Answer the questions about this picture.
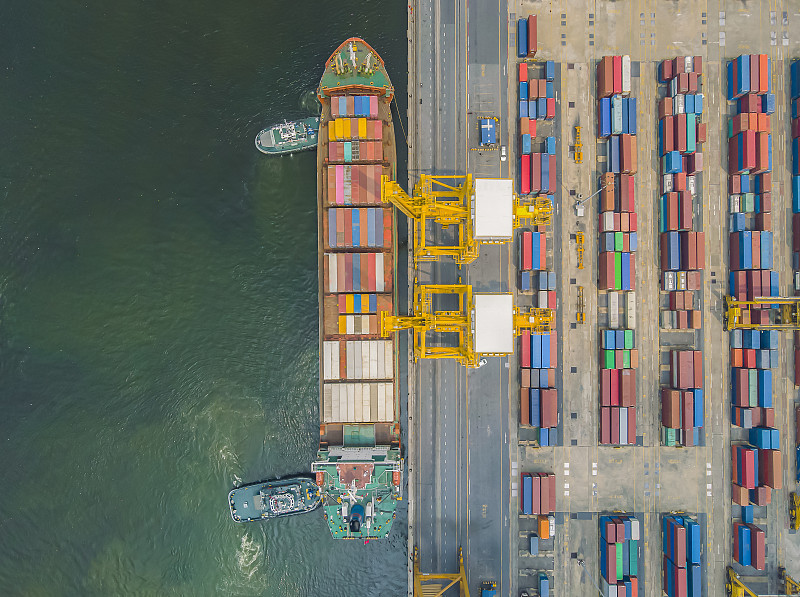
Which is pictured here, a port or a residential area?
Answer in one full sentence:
The area seen from above is a port.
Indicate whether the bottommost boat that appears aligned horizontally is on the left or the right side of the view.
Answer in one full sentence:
The bottommost boat that appears aligned horizontally is on the left side of the image.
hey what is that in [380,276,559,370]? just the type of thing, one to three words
container crane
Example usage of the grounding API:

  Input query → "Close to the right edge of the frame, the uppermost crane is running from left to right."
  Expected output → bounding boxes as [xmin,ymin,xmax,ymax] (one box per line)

[725,295,800,332]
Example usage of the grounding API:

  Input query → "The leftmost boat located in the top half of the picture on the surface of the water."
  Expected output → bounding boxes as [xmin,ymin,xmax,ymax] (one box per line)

[254,117,319,157]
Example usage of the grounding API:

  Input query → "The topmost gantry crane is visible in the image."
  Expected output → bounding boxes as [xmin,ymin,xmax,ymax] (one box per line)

[380,173,558,273]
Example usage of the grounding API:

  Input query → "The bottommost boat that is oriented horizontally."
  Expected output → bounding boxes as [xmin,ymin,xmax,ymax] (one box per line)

[226,476,320,520]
